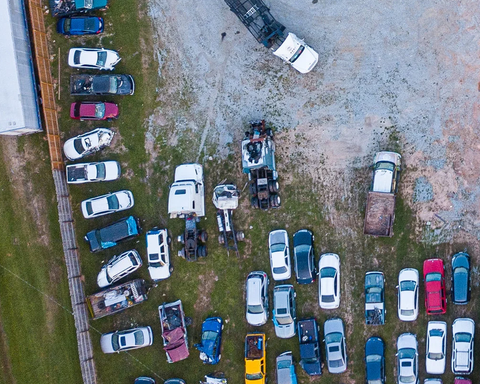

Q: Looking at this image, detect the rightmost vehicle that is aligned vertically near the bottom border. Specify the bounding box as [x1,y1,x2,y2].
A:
[450,318,477,376]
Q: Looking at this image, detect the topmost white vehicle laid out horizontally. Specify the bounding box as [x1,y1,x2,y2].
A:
[66,46,119,70]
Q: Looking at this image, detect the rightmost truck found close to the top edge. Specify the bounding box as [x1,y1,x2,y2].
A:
[259,19,322,77]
